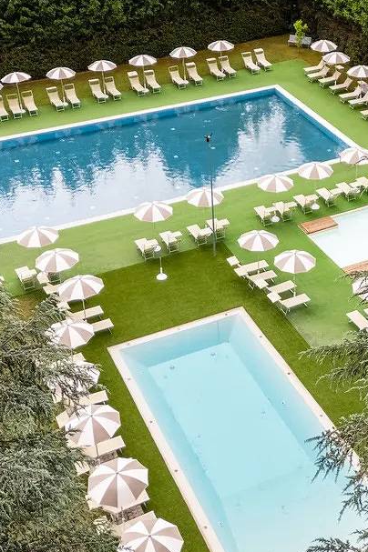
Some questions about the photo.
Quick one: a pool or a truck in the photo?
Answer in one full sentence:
There is a pool in the scene.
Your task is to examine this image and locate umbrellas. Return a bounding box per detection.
[48,320,99,362]
[257,176,294,208]
[311,42,338,58]
[346,66,368,91]
[1,75,31,111]
[127,57,154,91]
[167,49,193,83]
[20,228,64,252]
[338,148,368,165]
[271,249,316,274]
[50,361,104,416]
[208,41,235,65]
[118,521,186,552]
[321,55,349,90]
[59,276,106,323]
[62,410,119,474]
[298,165,334,191]
[237,229,278,275]
[44,70,74,106]
[35,250,80,285]
[87,61,116,77]
[132,203,170,251]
